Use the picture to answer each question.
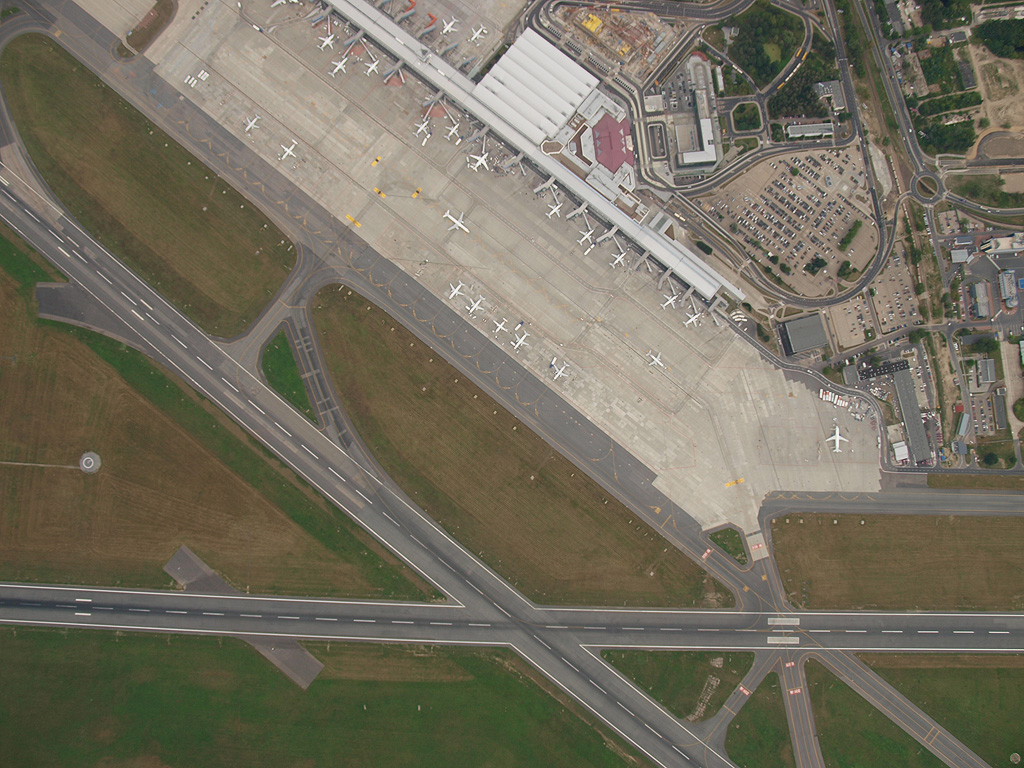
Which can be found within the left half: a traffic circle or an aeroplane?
aeroplane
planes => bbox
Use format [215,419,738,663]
[444,124,459,140]
[609,253,626,269]
[449,280,464,299]
[493,317,508,332]
[554,361,570,380]
[412,121,428,137]
[469,153,488,174]
[443,209,470,233]
[576,229,594,245]
[318,35,334,51]
[682,313,701,328]
[363,61,379,76]
[660,293,681,311]
[278,138,297,160]
[471,24,486,41]
[327,58,347,78]
[827,426,848,453]
[514,330,531,349]
[470,294,486,314]
[545,203,562,219]
[442,15,460,34]
[645,349,666,369]
[245,113,262,132]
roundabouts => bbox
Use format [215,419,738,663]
[910,171,943,205]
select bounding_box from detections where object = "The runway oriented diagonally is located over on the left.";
[0,160,738,768]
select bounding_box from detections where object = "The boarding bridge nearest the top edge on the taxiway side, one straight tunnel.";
[311,5,333,35]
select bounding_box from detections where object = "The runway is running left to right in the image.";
[0,584,1024,653]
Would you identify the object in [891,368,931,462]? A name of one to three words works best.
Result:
hangar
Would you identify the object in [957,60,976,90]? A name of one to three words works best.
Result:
building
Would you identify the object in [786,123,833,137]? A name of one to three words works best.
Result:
building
